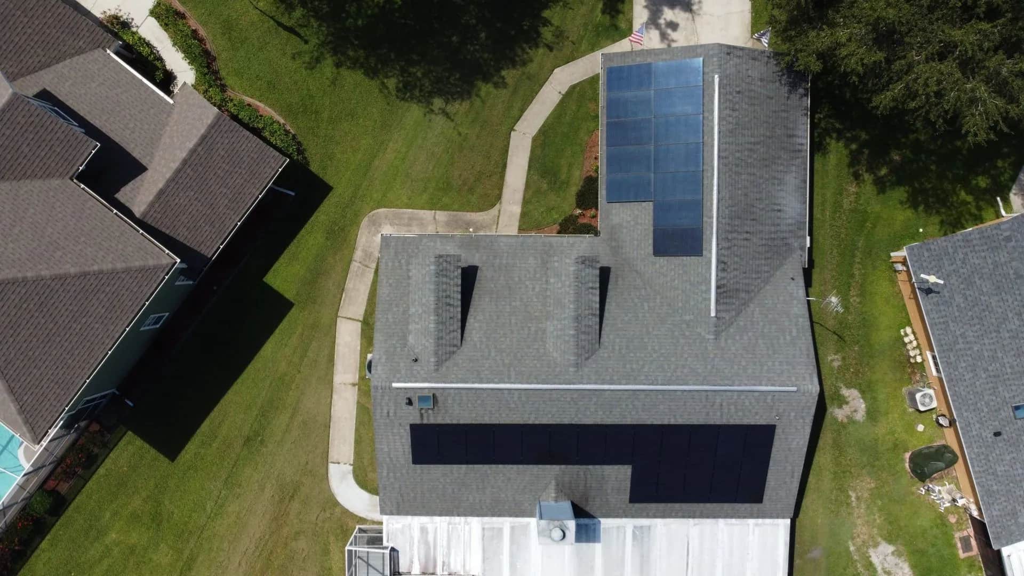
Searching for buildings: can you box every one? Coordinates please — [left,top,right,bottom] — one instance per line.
[0,0,306,449]
[371,43,820,576]
[887,215,1024,576]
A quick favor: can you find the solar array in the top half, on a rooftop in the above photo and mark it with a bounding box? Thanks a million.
[607,58,702,255]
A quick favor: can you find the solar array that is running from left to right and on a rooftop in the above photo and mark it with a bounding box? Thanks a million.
[410,423,776,503]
